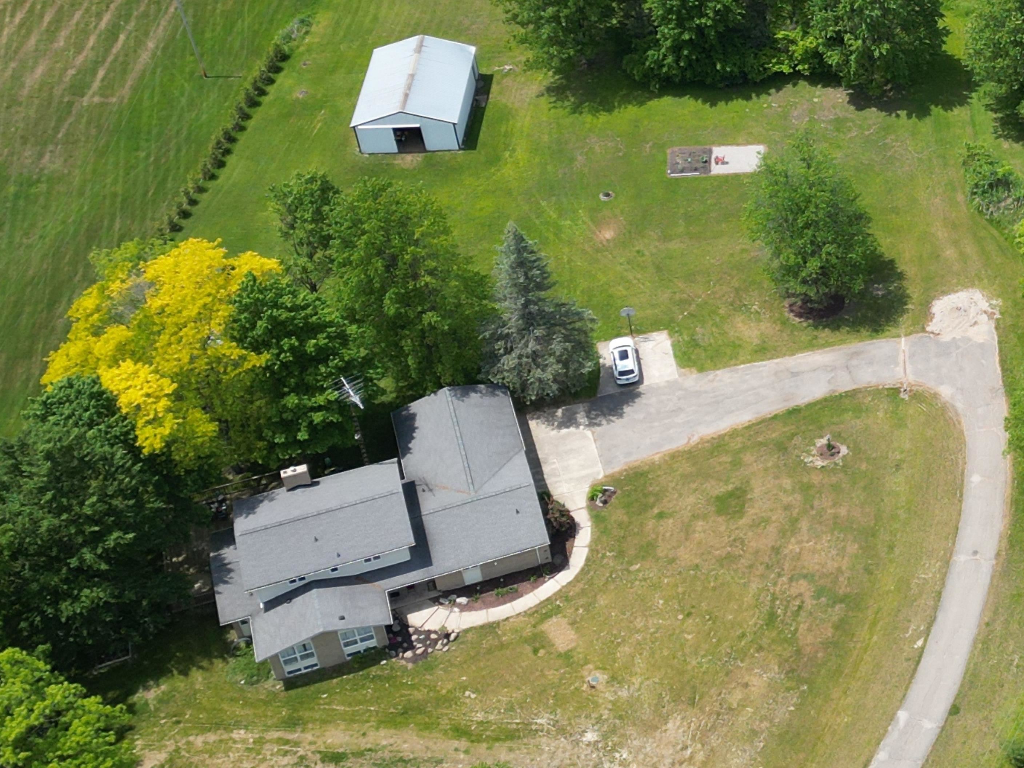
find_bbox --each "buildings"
[350,35,476,153]
[210,384,550,678]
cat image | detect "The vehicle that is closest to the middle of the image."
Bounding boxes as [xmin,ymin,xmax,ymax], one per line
[608,334,641,383]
